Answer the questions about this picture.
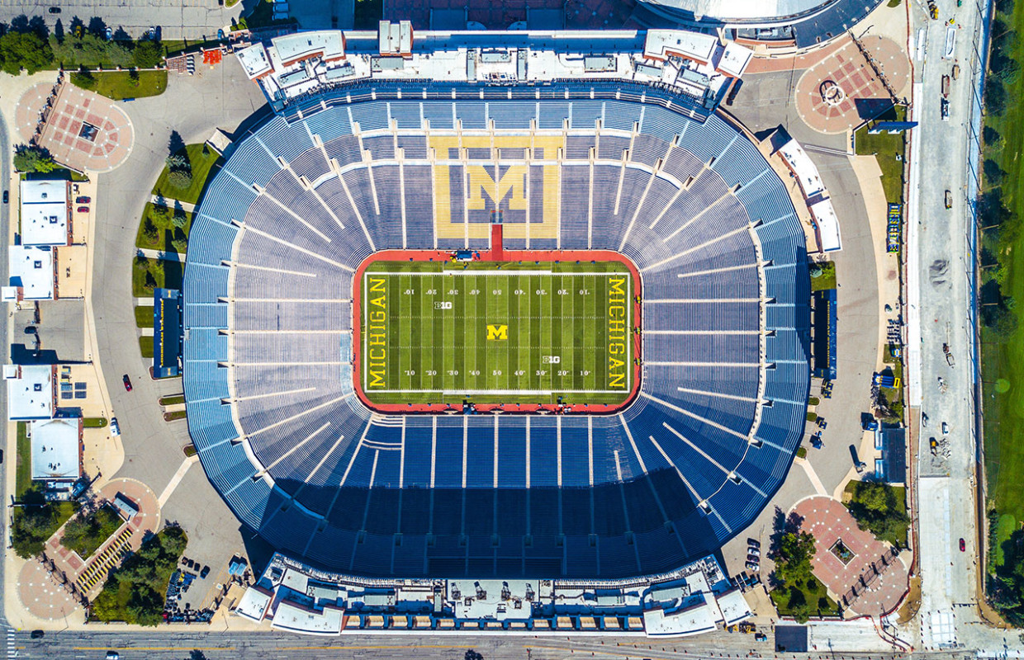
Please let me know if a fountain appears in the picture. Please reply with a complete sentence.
Yes, there's a fountain here.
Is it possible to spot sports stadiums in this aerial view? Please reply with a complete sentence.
Yes, this view includes a sports stadium.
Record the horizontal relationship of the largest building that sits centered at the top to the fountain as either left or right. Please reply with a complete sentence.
It is on the right side of the fountain that the largest building that sits centered at the top is positioned.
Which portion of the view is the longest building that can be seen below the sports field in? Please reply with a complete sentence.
The longest building that can be seen below the sports field is in the bottom part of the image.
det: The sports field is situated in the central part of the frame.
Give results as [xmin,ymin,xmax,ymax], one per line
[361,261,635,404]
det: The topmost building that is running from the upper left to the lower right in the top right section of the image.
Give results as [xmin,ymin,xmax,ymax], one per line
[775,138,826,197]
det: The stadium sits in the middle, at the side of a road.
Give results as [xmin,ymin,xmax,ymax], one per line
[183,100,811,576]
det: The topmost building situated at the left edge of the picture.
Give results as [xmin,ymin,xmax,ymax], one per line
[20,180,78,246]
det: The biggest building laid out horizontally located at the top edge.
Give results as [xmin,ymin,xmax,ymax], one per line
[235,20,756,134]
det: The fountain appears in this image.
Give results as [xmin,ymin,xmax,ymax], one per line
[75,119,100,143]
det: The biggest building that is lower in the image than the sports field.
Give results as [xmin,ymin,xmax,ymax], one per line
[234,544,755,639]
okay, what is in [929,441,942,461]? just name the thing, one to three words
vehicle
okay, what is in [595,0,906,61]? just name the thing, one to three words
stadium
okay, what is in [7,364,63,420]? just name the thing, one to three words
building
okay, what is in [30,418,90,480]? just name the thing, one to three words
building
